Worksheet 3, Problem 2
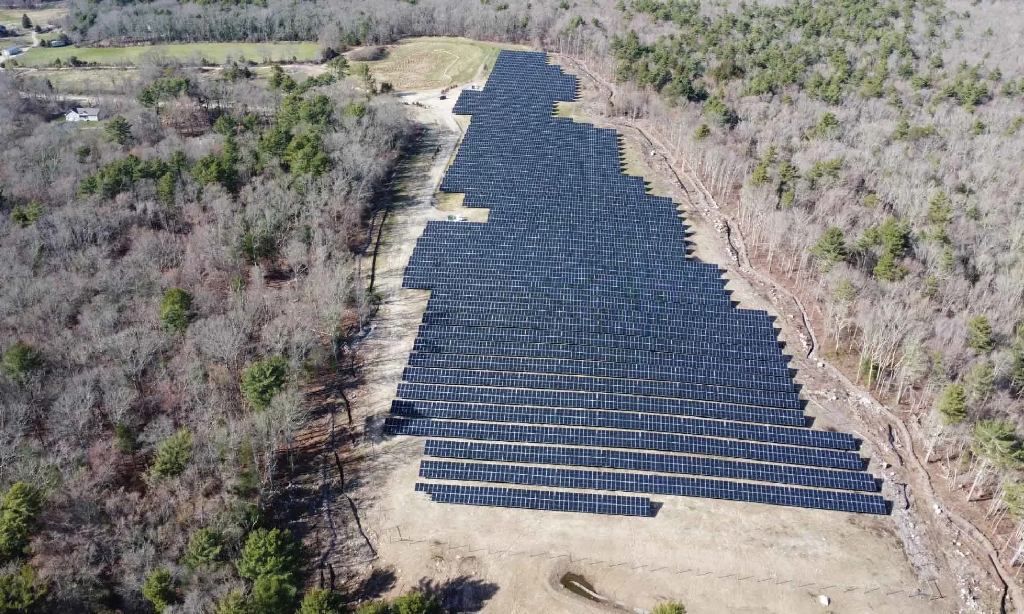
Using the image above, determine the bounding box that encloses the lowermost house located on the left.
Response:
[62,106,103,123]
